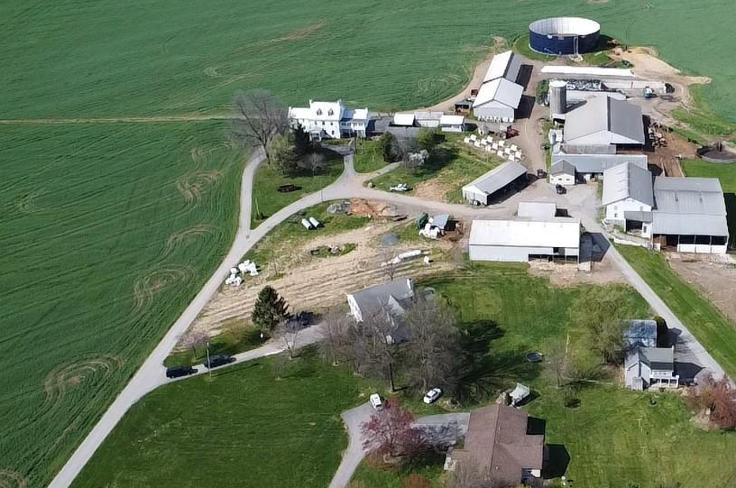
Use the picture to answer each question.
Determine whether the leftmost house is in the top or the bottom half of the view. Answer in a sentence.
The leftmost house is in the top half of the image.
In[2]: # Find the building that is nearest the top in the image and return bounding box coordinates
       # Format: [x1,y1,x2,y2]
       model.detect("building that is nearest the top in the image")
[481,50,525,86]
